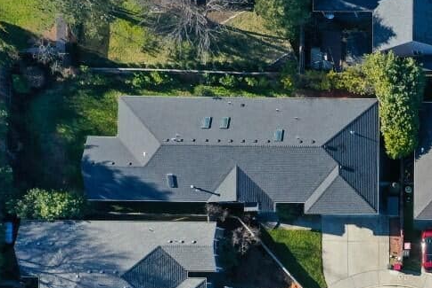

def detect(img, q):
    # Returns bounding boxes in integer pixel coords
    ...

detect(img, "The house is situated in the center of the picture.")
[77,95,379,214]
